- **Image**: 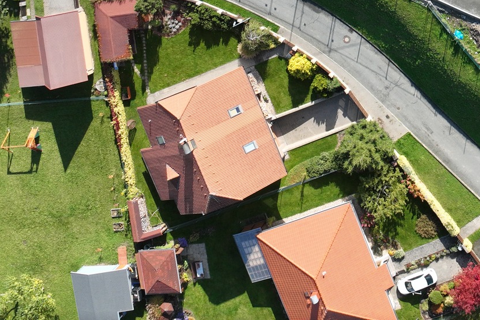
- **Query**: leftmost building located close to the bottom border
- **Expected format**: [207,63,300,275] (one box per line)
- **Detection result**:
[71,265,142,320]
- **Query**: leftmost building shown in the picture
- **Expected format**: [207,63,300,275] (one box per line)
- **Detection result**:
[10,10,92,91]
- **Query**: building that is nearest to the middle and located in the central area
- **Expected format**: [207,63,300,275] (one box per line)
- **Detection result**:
[137,66,288,215]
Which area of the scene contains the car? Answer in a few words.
bottom right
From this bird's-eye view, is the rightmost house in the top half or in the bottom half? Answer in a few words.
bottom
